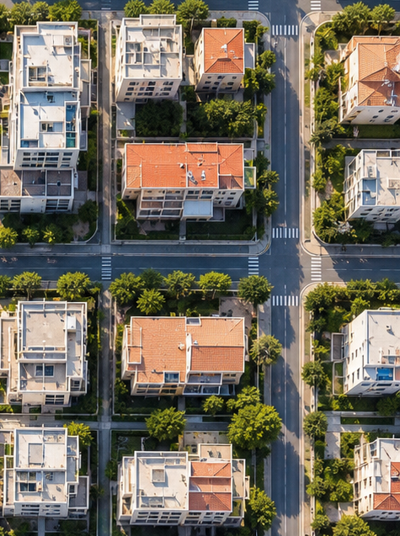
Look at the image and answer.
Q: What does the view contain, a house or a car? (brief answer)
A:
house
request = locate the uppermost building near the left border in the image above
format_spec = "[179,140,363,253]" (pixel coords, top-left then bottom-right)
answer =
[0,21,92,211]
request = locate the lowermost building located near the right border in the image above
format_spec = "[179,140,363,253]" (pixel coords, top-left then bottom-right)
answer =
[351,423,400,525]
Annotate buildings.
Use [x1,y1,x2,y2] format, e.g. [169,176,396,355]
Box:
[194,27,255,91]
[120,141,257,223]
[121,443,251,524]
[351,423,400,525]
[330,309,400,398]
[0,295,88,408]
[0,21,92,211]
[119,313,244,399]
[346,148,400,227]
[109,13,182,100]
[0,423,89,515]
[339,34,400,130]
